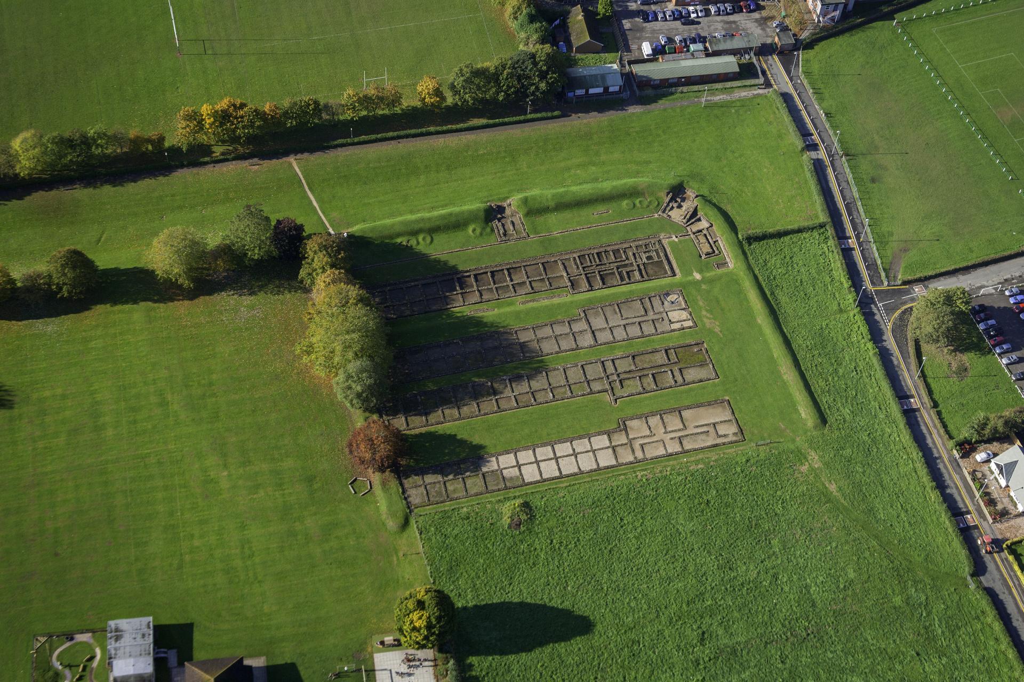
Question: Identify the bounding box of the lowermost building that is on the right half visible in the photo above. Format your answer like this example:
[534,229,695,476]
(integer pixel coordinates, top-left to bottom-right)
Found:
[991,445,1024,506]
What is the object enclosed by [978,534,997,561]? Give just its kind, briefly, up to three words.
work vehicle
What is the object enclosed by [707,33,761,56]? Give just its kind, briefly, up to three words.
shed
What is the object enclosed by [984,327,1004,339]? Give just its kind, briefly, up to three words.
vehicle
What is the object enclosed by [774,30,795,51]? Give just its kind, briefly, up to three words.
building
